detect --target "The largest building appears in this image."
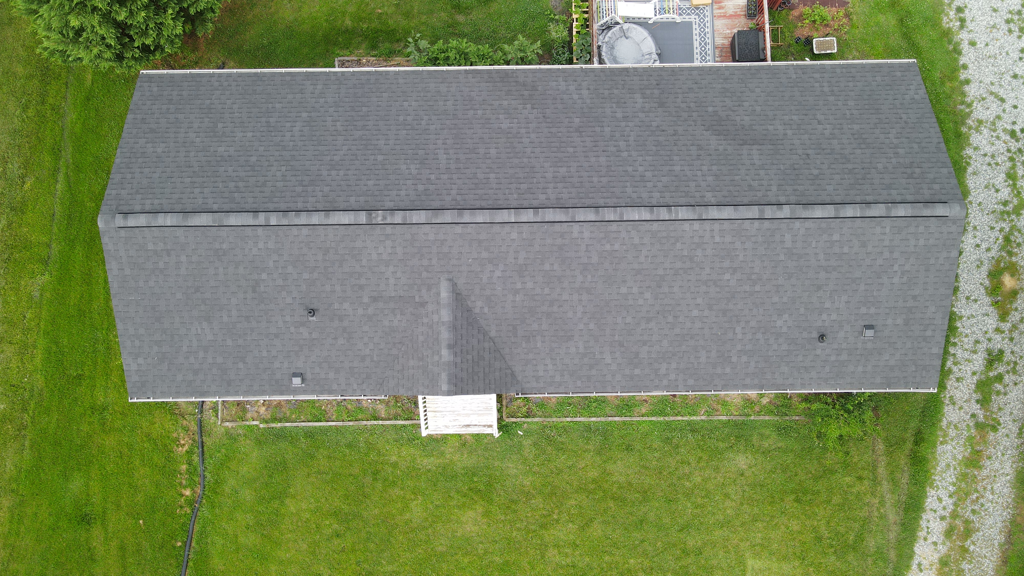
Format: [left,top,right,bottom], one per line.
[97,59,967,402]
